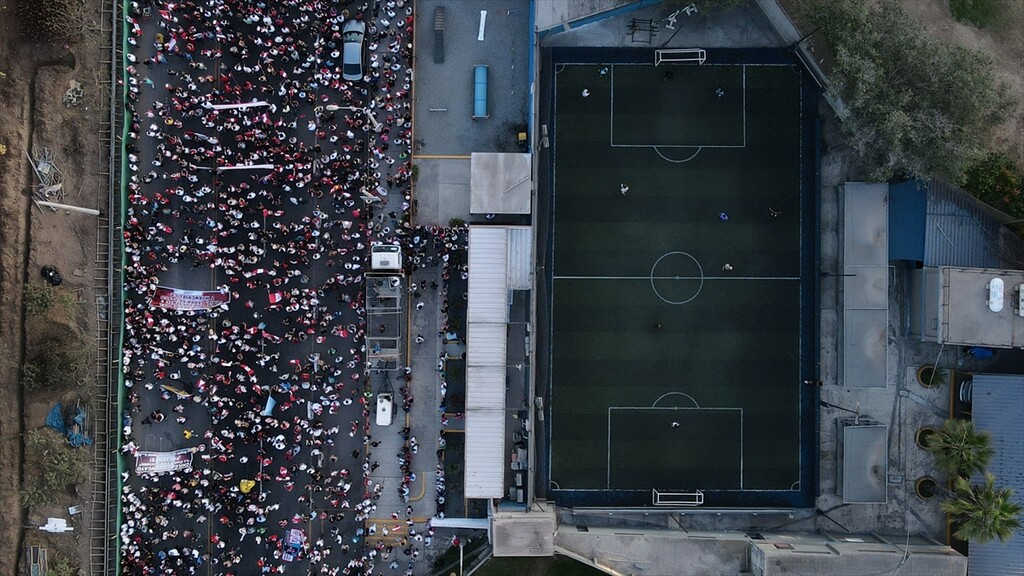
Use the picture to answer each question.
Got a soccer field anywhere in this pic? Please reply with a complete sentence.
Yes, the photo shows a soccer field.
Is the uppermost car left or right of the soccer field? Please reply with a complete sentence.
In the image, the uppermost car sits on the left side of the soccer field.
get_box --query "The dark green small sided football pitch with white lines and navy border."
[544,48,823,508]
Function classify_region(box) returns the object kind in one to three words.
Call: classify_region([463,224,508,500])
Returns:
building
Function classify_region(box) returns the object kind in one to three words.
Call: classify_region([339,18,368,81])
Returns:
car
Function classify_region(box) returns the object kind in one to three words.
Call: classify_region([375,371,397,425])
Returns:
trailer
